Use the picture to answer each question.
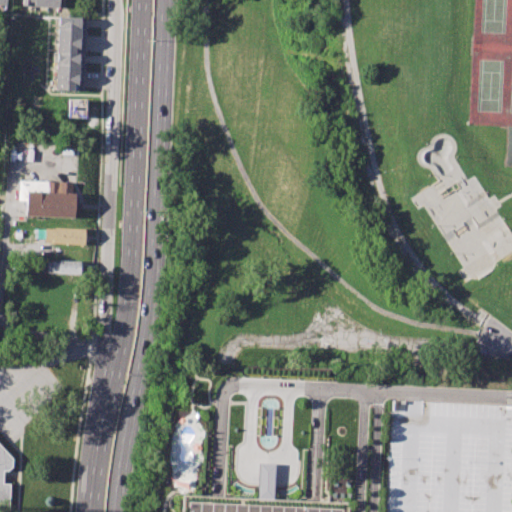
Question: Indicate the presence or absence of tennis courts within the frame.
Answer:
Yes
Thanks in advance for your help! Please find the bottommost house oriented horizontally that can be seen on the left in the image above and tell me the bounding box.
[49,260,82,276]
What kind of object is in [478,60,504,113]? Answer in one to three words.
tennis court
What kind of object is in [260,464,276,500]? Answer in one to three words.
building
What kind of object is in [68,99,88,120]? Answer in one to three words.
building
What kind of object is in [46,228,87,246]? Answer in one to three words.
house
